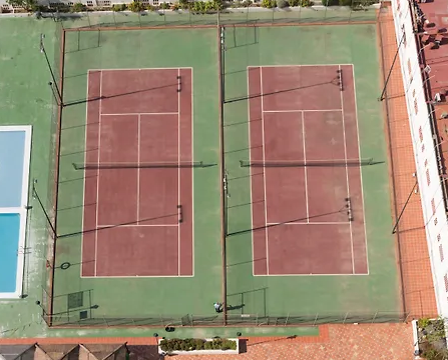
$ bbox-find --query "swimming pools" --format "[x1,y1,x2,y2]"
[0,126,31,208]
[0,207,27,297]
